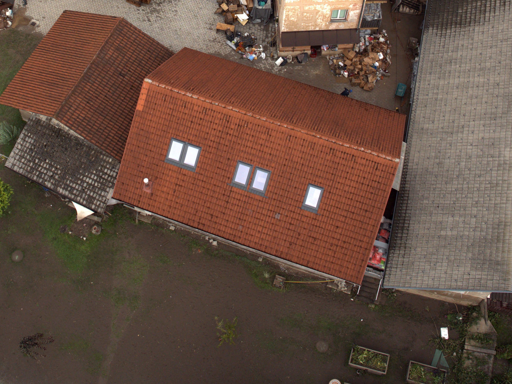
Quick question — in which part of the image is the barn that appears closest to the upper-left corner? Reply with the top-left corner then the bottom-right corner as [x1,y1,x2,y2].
[0,10,176,214]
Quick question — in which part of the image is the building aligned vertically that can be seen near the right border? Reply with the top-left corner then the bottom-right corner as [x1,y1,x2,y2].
[382,0,512,306]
